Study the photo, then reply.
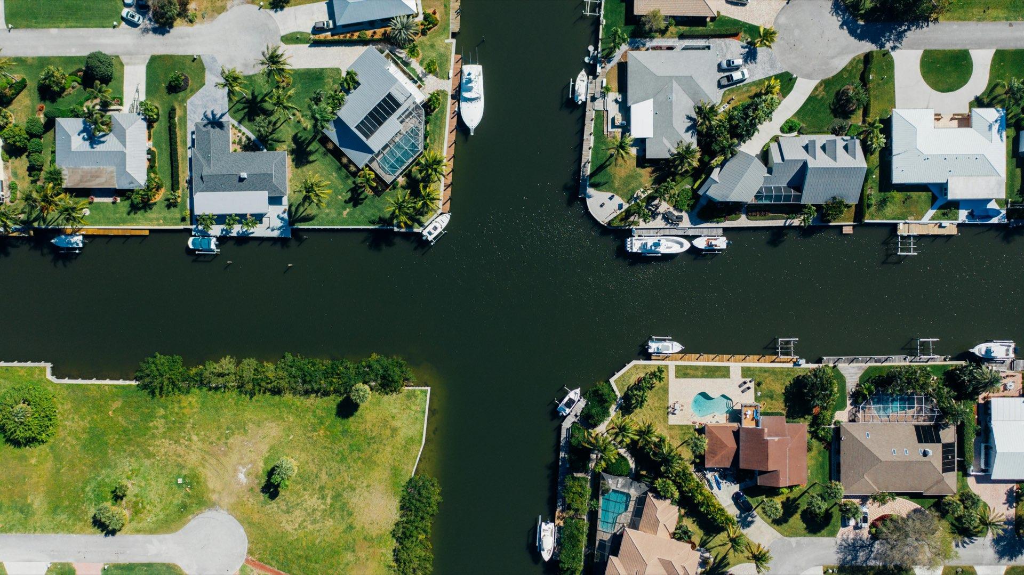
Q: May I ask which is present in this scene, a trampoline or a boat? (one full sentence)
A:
Visible in the photo is a boat.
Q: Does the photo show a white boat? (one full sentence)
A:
Yes, there's a white boat here.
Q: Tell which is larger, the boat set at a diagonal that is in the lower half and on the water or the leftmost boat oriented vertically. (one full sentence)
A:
The leftmost boat oriented vertically takes up more space than the boat set at a diagonal that is in the lower half and on the water does.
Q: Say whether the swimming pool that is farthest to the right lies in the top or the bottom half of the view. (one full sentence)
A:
The swimming pool that is farthest to the right sits in the bottom half of the picture.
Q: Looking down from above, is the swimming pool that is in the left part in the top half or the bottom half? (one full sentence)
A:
The swimming pool that is in the left part is in the top half of the image.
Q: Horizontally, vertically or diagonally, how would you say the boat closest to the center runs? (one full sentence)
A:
The boat closest to the center is oriented diagonally.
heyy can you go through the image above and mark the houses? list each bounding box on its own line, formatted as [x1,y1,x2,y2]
[890,108,1006,199]
[634,0,716,17]
[323,45,426,169]
[698,136,867,204]
[987,397,1024,479]
[192,121,288,214]
[628,50,718,158]
[55,113,149,189]
[332,0,417,26]
[839,423,956,495]
[705,416,807,487]
[606,492,700,575]
[0,137,8,198]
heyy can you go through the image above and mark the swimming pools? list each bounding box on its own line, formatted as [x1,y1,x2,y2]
[598,489,632,532]
[754,190,786,202]
[378,125,422,175]
[690,391,734,418]
[871,393,916,419]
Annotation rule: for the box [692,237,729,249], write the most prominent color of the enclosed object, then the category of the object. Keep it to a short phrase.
white boat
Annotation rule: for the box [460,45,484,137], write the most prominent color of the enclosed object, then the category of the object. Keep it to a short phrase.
white boat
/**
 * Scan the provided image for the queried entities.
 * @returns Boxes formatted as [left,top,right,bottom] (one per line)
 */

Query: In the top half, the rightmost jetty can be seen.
[897,223,958,236]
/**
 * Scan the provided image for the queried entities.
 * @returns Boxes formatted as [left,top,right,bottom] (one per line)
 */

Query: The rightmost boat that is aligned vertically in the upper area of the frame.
[574,66,588,106]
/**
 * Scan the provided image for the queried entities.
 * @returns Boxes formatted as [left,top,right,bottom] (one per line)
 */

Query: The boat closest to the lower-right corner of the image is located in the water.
[968,342,1019,358]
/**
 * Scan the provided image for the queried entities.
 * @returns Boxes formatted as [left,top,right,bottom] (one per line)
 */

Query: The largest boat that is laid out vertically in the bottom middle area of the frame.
[540,519,554,564]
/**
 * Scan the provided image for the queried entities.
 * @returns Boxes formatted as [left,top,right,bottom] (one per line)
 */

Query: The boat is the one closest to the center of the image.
[422,212,451,241]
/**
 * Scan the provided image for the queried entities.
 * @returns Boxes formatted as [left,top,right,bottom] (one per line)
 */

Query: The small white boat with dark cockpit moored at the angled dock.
[555,387,581,418]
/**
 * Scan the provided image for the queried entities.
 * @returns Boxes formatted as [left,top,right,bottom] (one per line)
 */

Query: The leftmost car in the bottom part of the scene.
[731,489,752,514]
